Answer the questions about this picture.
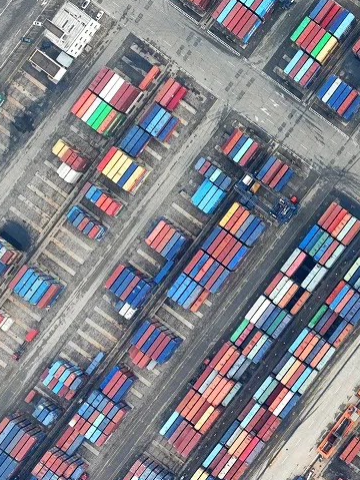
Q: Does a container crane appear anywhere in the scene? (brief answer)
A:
Yes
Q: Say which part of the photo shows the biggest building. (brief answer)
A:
top left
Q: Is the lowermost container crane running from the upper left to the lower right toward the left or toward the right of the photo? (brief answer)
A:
right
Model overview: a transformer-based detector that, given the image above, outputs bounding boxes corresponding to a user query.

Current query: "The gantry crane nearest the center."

[227,171,293,223]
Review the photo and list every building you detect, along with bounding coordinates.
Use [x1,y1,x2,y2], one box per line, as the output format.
[28,48,74,86]
[43,2,104,61]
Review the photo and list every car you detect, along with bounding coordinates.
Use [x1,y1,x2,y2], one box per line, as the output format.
[41,41,52,49]
[32,20,43,27]
[22,36,32,44]
[96,11,105,21]
[82,0,91,11]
